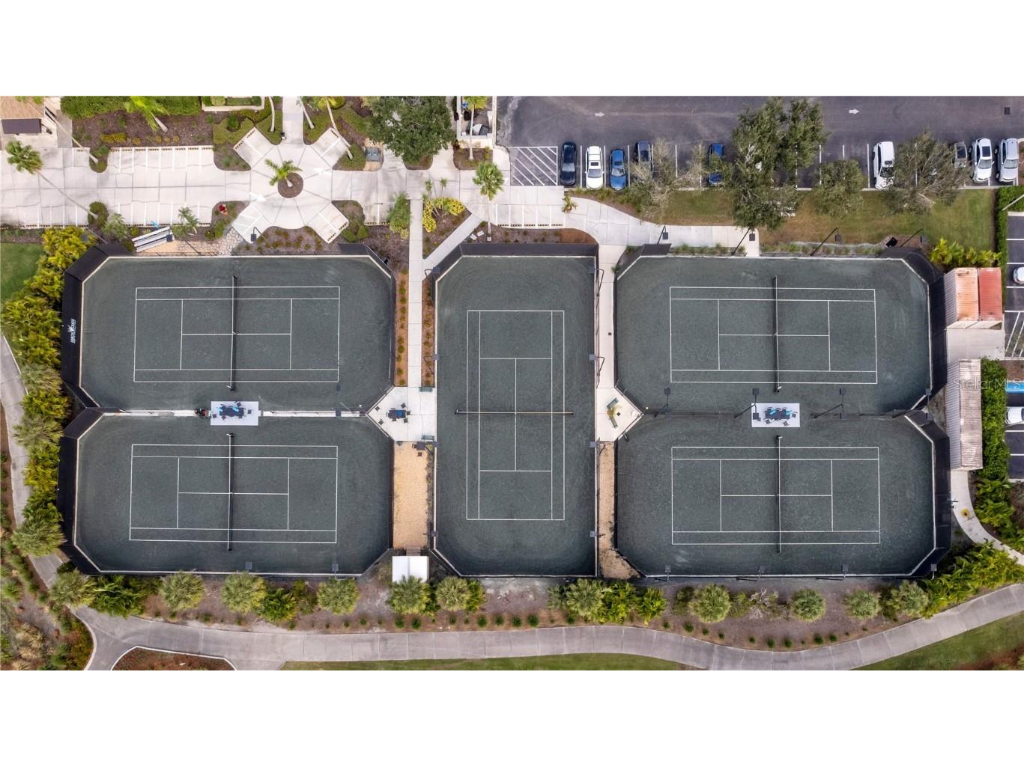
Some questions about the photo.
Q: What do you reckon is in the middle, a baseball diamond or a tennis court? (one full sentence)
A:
There is a tennis court in the middle.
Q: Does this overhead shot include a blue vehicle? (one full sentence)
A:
Yes, there's a blue vehicle down there.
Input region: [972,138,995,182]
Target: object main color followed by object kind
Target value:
white car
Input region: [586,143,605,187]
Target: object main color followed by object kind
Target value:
white car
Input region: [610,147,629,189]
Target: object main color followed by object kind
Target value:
blue car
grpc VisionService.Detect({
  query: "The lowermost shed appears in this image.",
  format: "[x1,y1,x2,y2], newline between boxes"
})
[394,557,430,584]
